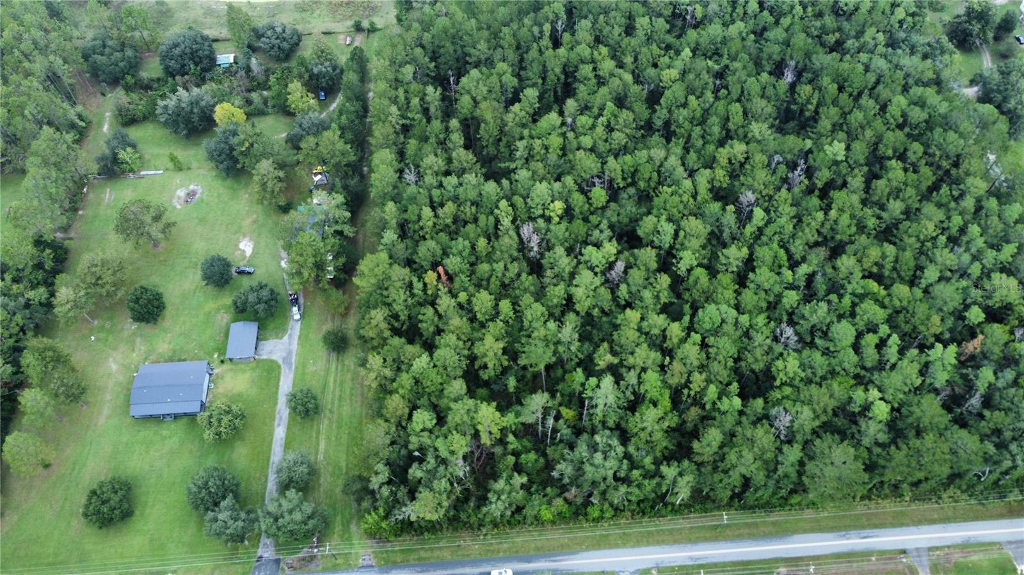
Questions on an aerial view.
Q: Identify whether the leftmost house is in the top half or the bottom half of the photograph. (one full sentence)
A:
The bottom half of the photo is where the leftmost house is.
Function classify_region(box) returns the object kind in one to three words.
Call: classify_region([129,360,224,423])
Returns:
house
